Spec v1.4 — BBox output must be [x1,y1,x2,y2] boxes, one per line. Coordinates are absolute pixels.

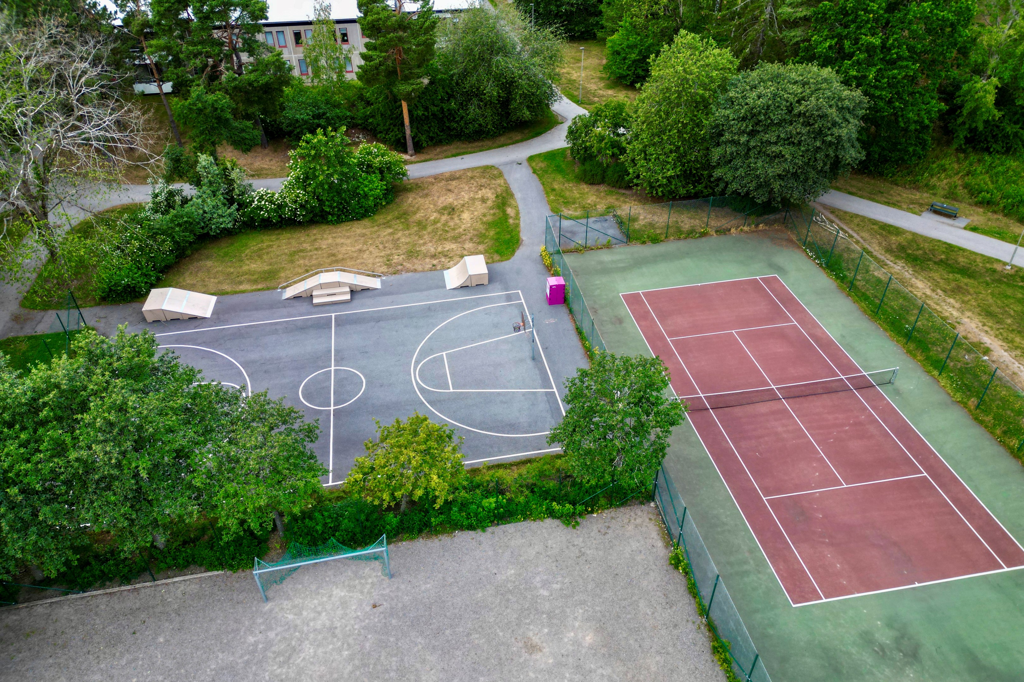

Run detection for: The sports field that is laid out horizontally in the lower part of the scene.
[0,508,724,682]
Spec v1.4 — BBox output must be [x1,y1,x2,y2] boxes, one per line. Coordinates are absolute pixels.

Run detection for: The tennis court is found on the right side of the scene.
[621,276,1024,605]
